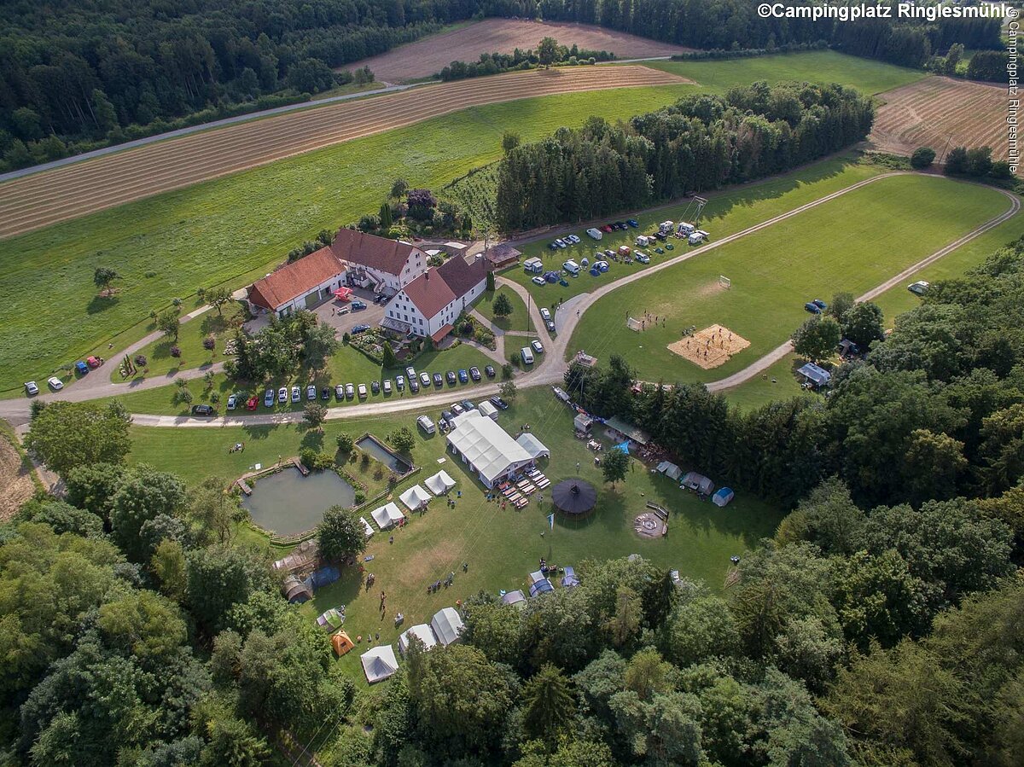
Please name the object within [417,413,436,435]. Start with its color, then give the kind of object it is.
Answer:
white vehicle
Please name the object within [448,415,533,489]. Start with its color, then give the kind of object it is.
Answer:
white tent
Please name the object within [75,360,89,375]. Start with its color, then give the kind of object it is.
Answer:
blue car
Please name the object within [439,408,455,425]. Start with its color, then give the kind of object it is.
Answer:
gray car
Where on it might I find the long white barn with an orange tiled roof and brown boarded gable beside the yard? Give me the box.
[247,245,347,322]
